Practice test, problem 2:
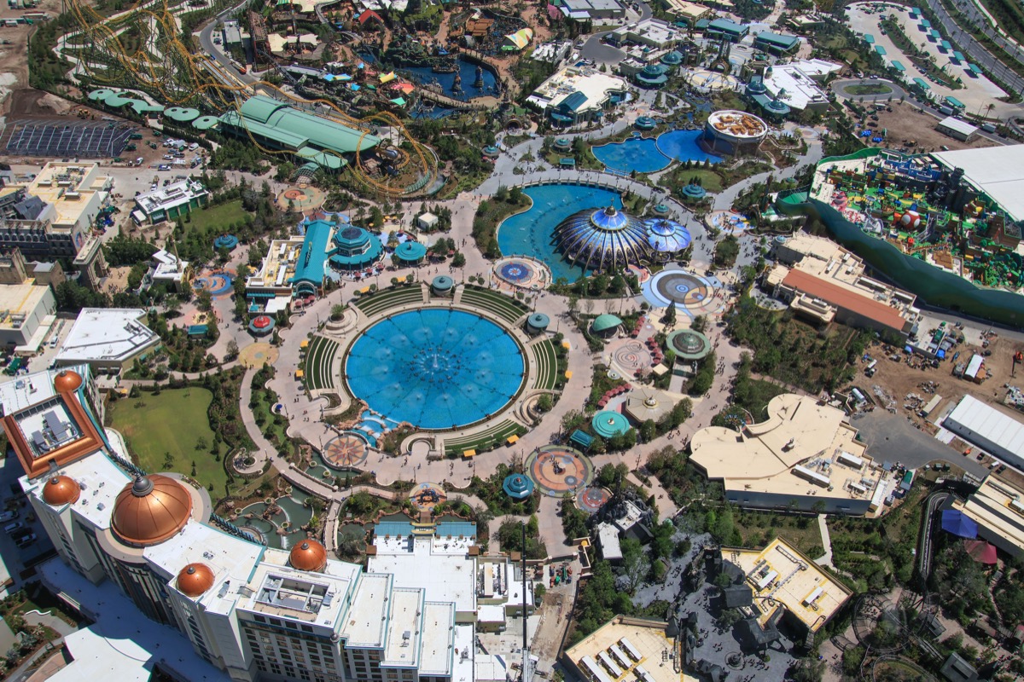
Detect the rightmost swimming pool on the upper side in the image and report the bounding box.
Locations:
[657,128,725,162]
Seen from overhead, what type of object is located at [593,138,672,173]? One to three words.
swimming pool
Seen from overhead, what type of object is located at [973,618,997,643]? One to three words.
shed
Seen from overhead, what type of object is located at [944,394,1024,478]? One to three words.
shed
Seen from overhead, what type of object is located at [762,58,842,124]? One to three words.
building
